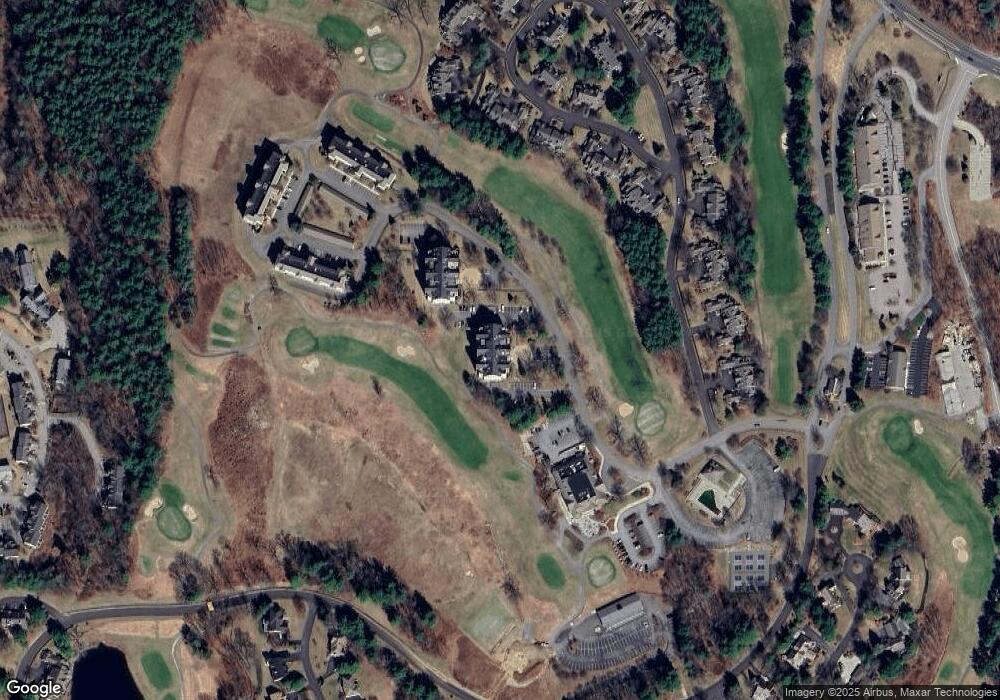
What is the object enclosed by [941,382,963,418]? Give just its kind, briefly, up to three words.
building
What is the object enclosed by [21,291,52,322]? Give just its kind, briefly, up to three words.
house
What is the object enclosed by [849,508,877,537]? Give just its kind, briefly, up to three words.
house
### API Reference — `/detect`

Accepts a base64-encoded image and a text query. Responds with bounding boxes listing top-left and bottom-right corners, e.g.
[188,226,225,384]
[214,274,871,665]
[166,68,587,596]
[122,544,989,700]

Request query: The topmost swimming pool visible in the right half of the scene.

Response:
[697,488,721,515]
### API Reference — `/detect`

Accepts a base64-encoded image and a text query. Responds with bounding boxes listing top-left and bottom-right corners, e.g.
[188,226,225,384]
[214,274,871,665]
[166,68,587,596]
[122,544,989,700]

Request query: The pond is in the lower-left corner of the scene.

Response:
[72,643,143,700]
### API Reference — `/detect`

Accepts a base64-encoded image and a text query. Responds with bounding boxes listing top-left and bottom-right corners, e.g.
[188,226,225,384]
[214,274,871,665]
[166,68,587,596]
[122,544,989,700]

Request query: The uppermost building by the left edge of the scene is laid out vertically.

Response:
[21,263,37,291]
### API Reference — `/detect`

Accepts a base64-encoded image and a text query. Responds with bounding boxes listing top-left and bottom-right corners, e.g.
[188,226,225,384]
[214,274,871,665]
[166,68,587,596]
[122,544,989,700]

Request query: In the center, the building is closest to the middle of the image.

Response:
[476,323,509,383]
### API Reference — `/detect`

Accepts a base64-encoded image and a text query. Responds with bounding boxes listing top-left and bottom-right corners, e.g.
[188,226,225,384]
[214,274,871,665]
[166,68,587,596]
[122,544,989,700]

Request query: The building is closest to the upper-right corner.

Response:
[863,103,885,126]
